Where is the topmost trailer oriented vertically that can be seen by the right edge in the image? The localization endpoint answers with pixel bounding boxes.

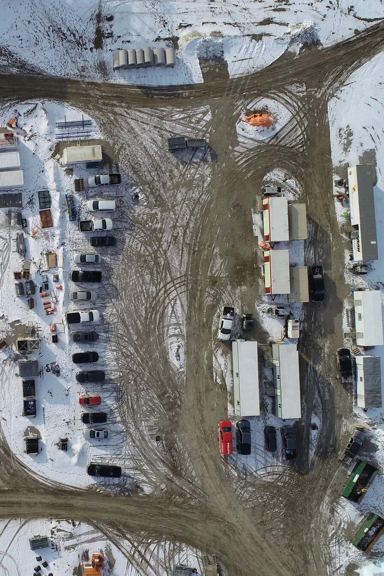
[344,164,378,262]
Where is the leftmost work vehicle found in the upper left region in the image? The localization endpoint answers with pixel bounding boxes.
[6,113,23,130]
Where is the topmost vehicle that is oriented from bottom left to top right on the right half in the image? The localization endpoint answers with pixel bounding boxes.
[337,428,364,465]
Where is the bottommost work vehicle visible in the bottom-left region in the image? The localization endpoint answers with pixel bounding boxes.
[89,551,105,572]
